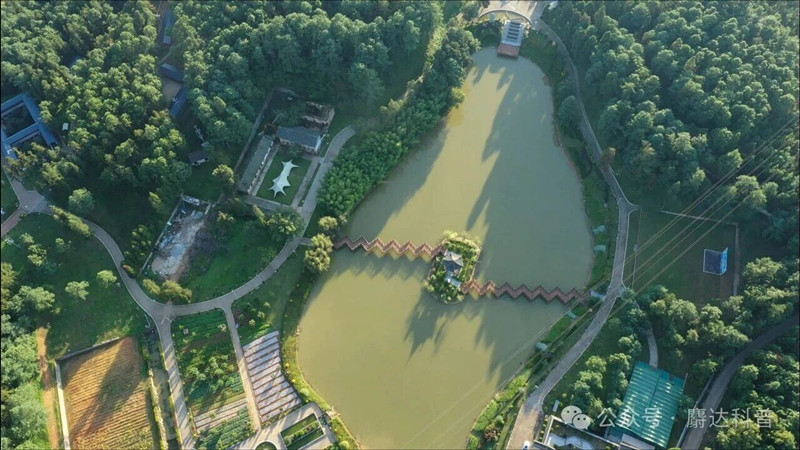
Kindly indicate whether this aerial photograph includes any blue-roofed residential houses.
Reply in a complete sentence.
Yes, the frame does contain a blue-roofed residential house.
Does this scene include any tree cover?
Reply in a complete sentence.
Yes, the picture does contain tree cover.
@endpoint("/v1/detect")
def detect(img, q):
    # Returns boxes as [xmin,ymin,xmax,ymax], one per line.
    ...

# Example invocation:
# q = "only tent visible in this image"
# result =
[266,160,300,203]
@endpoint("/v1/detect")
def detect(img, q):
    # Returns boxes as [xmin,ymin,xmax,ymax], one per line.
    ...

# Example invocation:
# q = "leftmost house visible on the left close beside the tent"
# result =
[239,135,274,194]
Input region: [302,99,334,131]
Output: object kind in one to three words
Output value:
house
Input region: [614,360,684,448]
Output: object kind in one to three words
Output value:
shed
